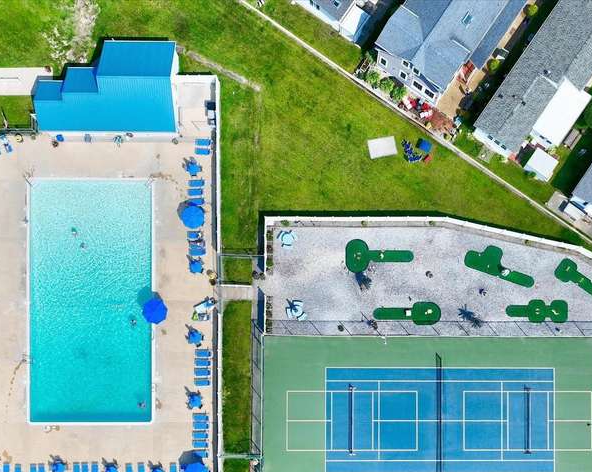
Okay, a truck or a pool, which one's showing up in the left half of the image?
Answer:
pool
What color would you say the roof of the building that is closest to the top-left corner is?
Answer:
blue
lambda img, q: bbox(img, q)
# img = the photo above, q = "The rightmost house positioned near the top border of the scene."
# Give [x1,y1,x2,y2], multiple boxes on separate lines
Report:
[472,0,592,160]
